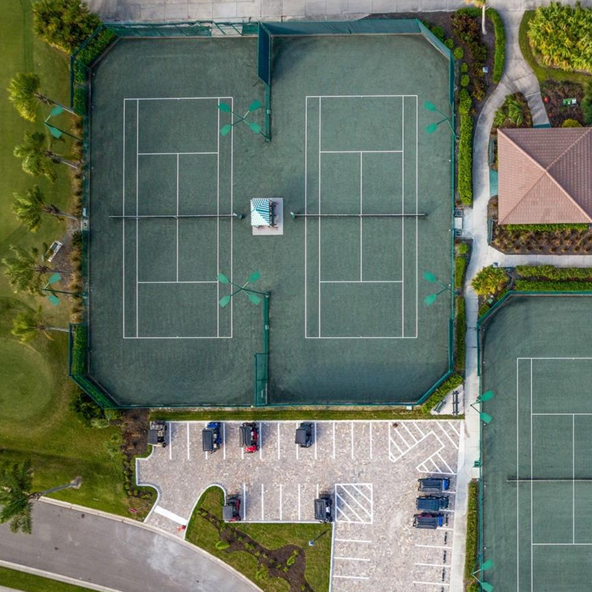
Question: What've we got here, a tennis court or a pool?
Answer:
tennis court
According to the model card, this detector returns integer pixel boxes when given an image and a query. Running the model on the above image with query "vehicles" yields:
[146,417,167,448]
[418,477,450,492]
[417,495,450,512]
[314,492,332,522]
[295,421,313,448]
[222,494,241,522]
[239,420,258,453]
[413,514,446,530]
[202,420,222,454]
